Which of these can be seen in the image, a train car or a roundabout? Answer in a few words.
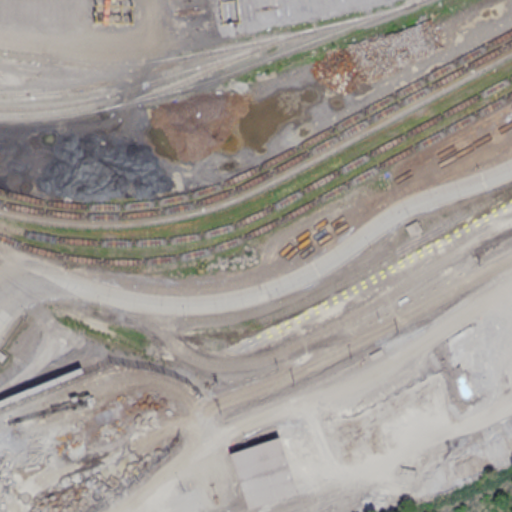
train car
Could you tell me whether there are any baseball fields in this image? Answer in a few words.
No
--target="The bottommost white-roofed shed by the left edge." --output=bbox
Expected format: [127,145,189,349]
[0,369,84,408]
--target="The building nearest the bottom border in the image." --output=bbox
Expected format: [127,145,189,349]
[240,468,296,508]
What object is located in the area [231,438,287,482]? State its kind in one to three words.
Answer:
building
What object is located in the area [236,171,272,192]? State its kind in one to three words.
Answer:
rail car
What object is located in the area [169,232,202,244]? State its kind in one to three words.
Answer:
rail car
